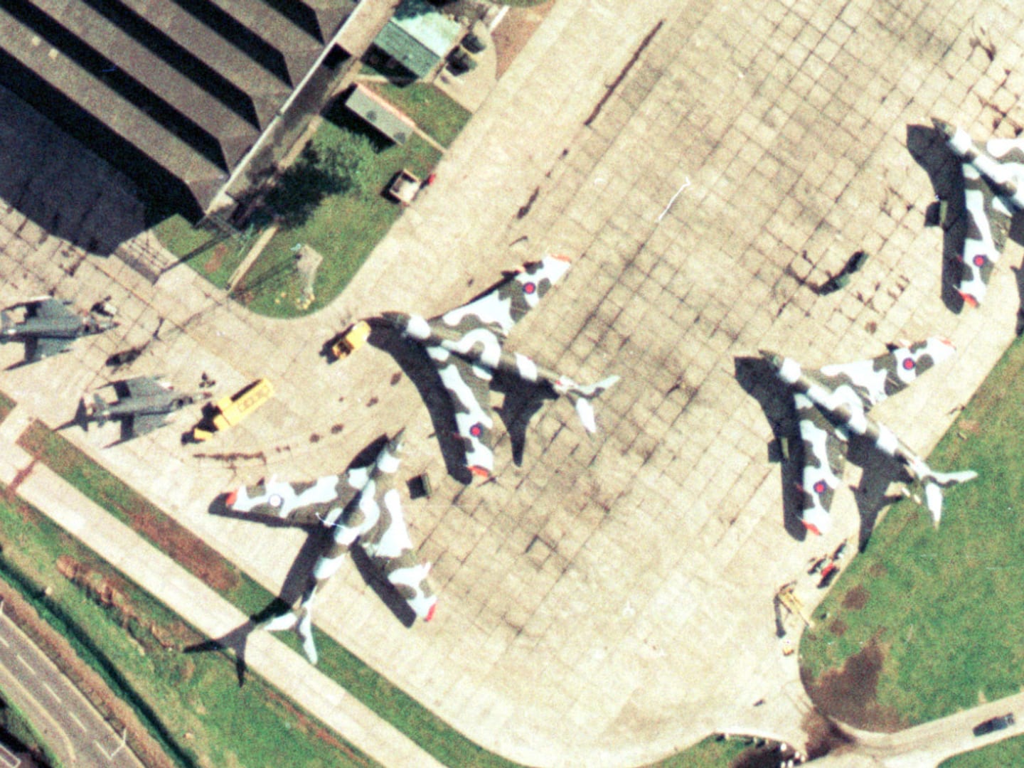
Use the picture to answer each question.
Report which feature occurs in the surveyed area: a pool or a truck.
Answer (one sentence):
It is a truck that can be seen here.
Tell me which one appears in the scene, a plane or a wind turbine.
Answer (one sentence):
Looking from above, you can make out a plane.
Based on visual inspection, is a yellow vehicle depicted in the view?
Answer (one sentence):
Yes, the picture does show a yellow vehicle.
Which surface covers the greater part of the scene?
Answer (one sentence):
For the most part, this view shows paved ground.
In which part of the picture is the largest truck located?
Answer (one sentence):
The largest truck is located in the left region of the scene.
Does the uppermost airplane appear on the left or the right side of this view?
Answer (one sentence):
The uppermost airplane is on the right side of the image.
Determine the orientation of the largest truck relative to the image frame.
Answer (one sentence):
The largest truck runs diagonally in the image.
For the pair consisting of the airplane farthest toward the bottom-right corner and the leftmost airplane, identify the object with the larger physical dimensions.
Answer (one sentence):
The airplane farthest toward the bottom-right corner takes up more space than the leftmost airplane.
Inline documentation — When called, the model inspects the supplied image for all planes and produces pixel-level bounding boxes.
[929,116,1024,308]
[381,250,624,476]
[756,330,980,534]
[226,426,447,663]
[4,301,121,361]
[97,380,213,442]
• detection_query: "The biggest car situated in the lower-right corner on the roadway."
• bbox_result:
[989,710,1017,729]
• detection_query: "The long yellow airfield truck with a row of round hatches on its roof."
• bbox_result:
[214,377,274,431]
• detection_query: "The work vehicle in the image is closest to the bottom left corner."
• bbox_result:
[191,424,213,439]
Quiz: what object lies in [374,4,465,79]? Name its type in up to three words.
shed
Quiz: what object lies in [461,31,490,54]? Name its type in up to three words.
car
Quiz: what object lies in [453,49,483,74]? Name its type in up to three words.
car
